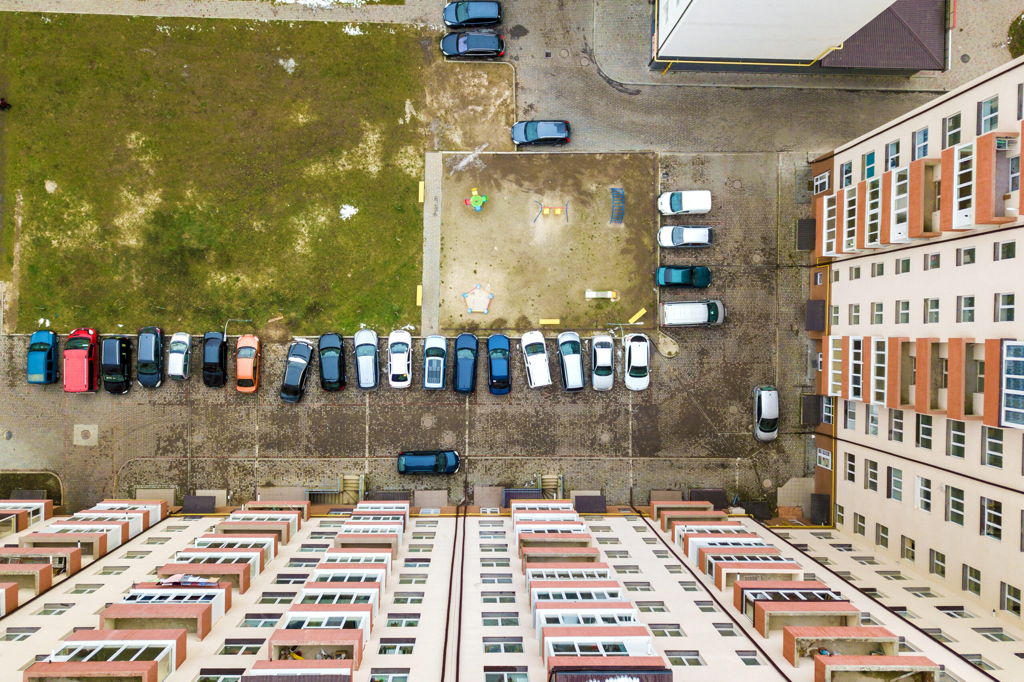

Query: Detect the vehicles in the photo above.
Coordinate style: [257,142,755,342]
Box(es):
[451,333,480,395]
[484,334,513,395]
[199,332,229,387]
[520,330,552,388]
[656,222,712,250]
[420,335,450,389]
[100,334,134,394]
[589,336,617,390]
[511,116,570,147]
[657,188,710,216]
[751,385,782,441]
[165,332,196,379]
[398,448,460,478]
[351,328,383,391]
[556,332,585,392]
[385,330,414,387]
[65,328,102,391]
[443,0,502,29]
[232,334,262,393]
[656,262,712,290]
[316,333,347,391]
[624,334,653,390]
[656,299,723,329]
[279,341,314,402]
[440,28,505,60]
[132,326,165,388]
[29,330,64,382]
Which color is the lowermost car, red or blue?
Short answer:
blue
